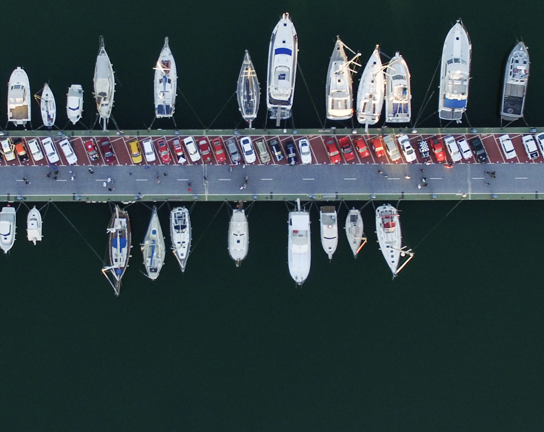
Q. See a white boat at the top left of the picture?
Yes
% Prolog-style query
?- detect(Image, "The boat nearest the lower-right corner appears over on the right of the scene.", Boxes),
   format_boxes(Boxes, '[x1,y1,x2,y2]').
[372,201,442,276]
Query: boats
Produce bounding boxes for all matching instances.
[91,35,118,130]
[324,35,361,127]
[55,202,137,296]
[27,204,45,243]
[209,49,260,129]
[191,199,252,270]
[372,201,442,276]
[6,63,33,129]
[138,201,165,278]
[343,201,367,258]
[500,42,532,126]
[315,201,341,263]
[167,201,194,272]
[34,83,59,131]
[150,36,204,128]
[384,49,412,126]
[65,85,85,127]
[266,9,323,128]
[415,17,472,127]
[285,199,313,286]
[0,205,19,256]
[354,46,398,132]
